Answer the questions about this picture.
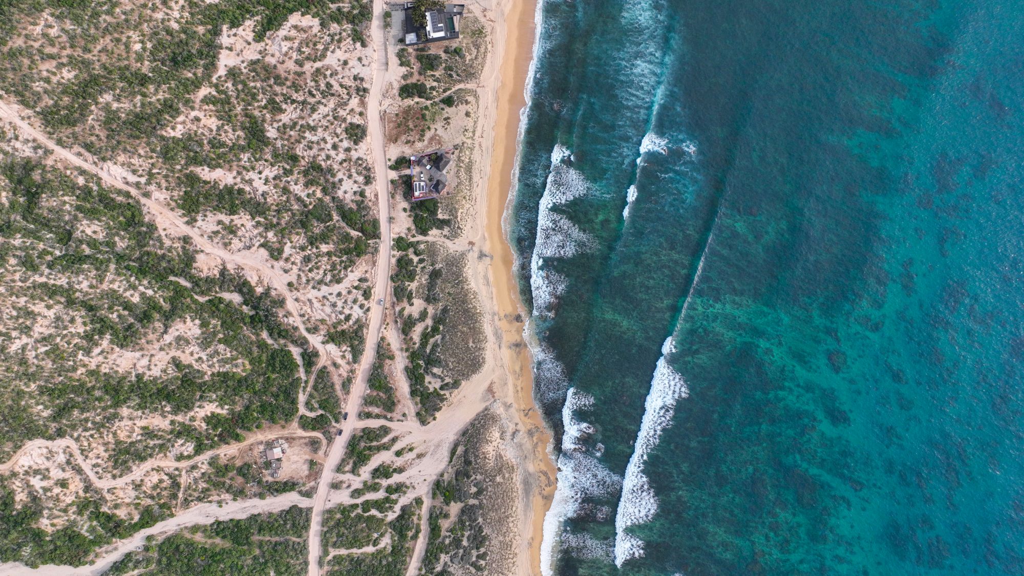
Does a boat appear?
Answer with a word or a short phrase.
No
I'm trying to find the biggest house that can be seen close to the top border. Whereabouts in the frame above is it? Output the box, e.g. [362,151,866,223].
[426,9,447,40]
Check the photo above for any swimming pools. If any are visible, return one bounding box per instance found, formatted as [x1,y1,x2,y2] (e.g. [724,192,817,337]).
[446,13,461,36]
